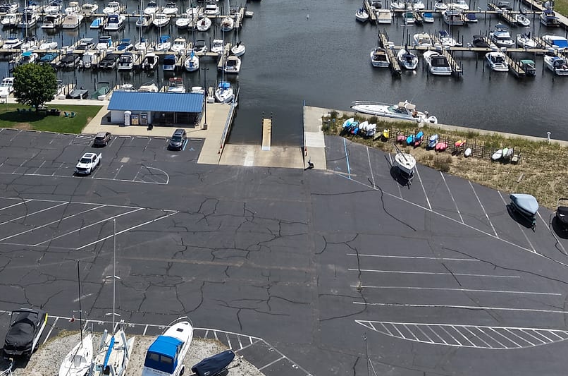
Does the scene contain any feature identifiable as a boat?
Yes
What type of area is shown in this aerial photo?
parking lot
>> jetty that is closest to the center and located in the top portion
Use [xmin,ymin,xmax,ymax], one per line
[260,110,272,150]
